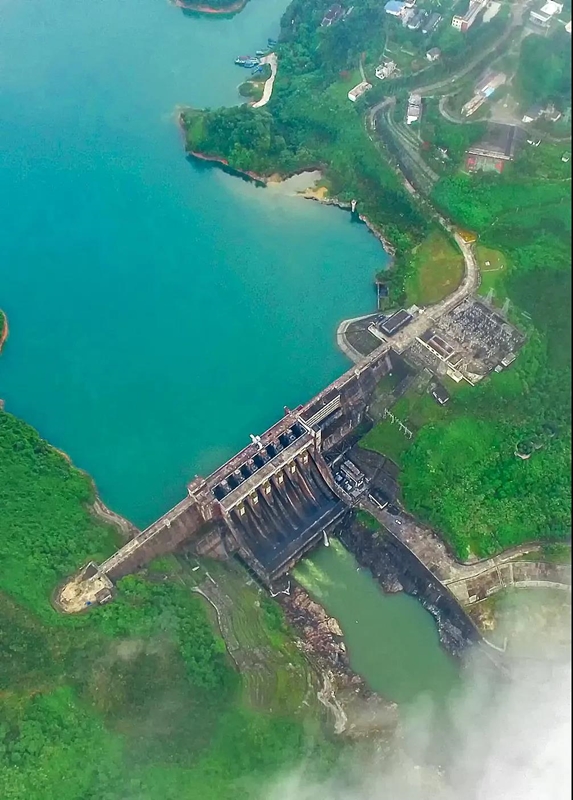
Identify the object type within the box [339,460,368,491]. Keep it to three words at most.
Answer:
building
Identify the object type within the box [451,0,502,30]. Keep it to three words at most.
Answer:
building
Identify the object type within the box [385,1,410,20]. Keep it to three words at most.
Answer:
house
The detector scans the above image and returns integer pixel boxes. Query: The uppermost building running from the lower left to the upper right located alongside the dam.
[379,309,412,339]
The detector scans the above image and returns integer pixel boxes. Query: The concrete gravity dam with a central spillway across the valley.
[96,342,395,601]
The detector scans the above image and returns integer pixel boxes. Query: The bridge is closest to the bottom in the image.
[213,423,315,508]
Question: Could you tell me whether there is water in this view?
Yes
